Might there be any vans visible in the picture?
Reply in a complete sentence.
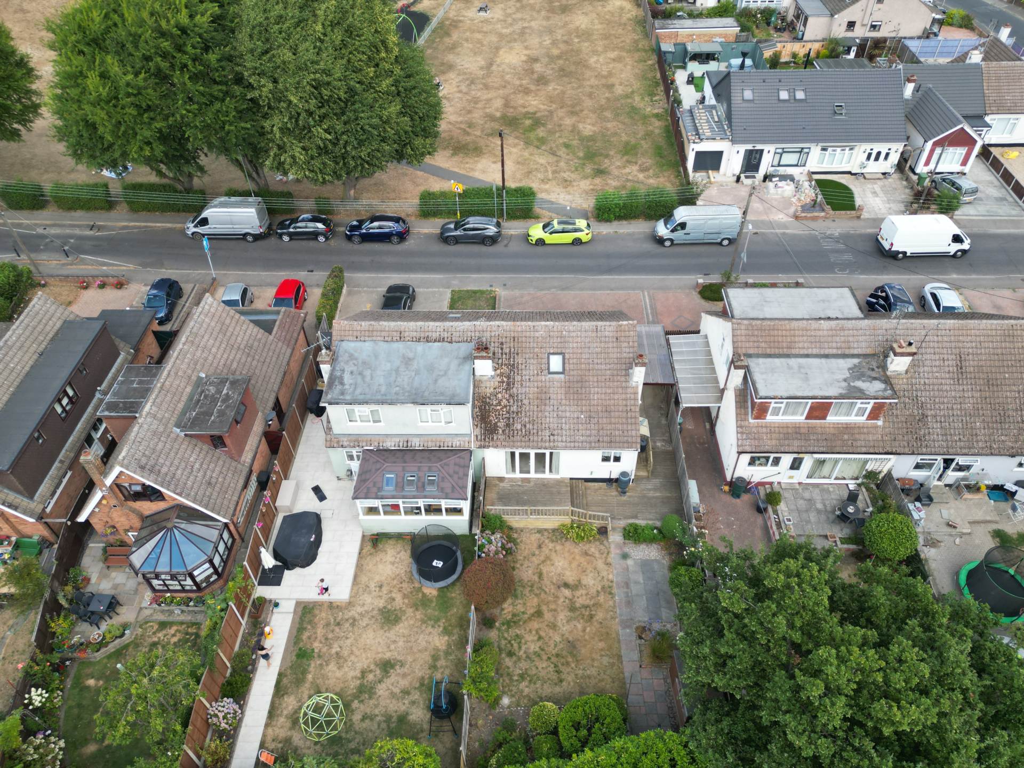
Yes, I can see a van in this picture.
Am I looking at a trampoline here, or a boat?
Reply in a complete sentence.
The one in the frame is a trampoline.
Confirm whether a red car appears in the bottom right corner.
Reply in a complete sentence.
No, no red car can be made out in the bottom right corner.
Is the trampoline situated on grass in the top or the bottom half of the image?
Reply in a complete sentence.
The bottom half of the photo is where the trampoline situated on grass is.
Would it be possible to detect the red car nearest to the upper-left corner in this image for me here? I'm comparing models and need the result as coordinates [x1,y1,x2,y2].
[265,281,307,312]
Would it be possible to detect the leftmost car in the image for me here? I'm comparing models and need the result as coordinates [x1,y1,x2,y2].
[138,278,191,331]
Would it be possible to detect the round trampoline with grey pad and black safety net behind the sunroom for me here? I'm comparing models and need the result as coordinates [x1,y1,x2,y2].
[407,522,463,588]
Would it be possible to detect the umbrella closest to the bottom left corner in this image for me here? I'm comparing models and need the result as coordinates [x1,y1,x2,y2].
[256,548,285,587]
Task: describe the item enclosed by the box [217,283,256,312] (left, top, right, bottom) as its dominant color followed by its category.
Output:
gray car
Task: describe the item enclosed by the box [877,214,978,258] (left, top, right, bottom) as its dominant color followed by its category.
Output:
white van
